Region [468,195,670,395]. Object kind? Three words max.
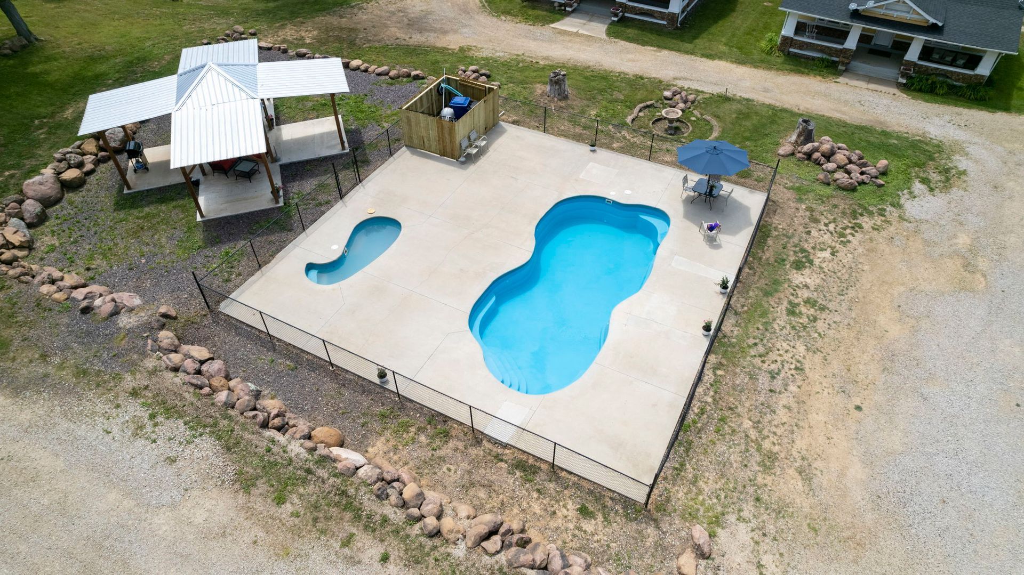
swimming pool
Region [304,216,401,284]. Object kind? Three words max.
swimming pool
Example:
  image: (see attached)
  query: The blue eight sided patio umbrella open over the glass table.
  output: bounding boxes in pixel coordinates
[681,138,753,204]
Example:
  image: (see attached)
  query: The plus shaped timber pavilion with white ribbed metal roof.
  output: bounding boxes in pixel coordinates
[77,38,352,218]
